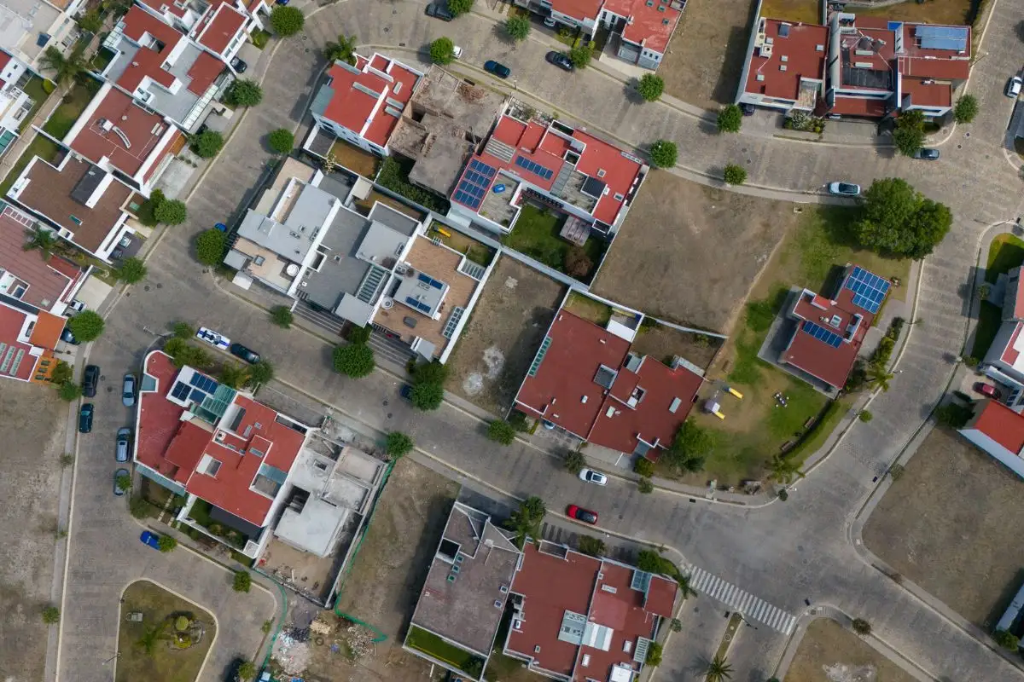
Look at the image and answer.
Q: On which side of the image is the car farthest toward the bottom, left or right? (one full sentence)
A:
The car farthest toward the bottom is on the left side of the image.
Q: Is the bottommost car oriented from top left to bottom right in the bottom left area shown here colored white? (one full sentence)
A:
No, the bottommost car oriented from top left to bottom right in the bottom left area is blue.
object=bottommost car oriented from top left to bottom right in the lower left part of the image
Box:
[137,529,167,551]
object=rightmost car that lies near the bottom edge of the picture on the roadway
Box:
[222,652,245,682]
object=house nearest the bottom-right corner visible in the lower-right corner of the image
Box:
[996,587,1024,651]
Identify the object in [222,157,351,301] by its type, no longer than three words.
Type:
house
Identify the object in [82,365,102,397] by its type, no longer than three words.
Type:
car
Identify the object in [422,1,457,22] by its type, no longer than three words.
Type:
vehicle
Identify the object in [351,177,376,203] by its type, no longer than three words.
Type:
shed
